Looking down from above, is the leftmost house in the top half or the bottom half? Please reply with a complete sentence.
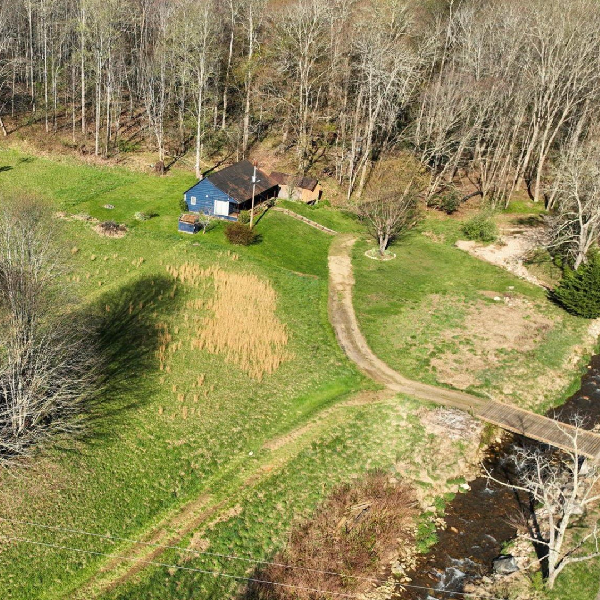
It is in the top half that the leftmost house appears.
